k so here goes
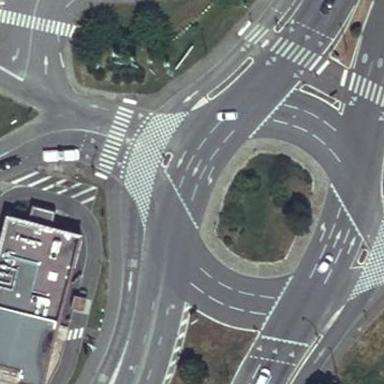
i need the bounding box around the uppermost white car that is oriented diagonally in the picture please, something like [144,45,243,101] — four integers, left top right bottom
[316,252,335,276]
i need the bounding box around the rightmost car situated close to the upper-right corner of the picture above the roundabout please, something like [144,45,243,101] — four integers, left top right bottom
[320,0,335,14]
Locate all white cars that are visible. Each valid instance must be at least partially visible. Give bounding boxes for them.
[316,252,335,276]
[256,367,272,384]
[217,111,238,122]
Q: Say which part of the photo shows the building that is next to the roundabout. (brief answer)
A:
bottom left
